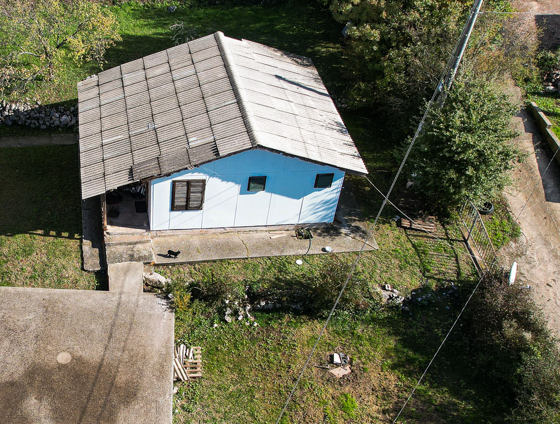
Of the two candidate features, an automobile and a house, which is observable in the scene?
house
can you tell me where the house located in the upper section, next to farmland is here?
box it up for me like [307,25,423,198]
[78,32,367,238]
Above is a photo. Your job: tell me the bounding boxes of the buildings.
[0,288,174,424]
[78,32,367,238]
